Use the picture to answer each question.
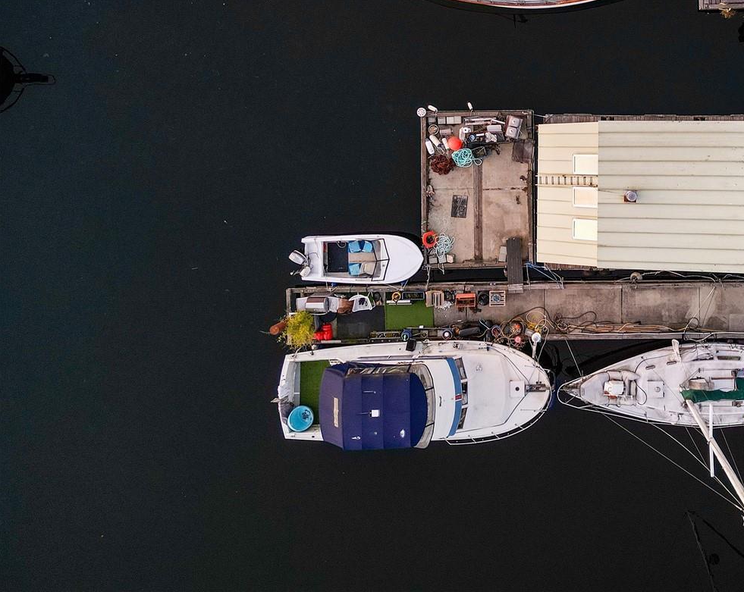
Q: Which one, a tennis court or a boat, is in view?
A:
boat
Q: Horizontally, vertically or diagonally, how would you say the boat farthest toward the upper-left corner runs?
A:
horizontally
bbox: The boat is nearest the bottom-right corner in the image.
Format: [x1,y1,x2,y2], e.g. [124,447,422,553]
[556,343,744,526]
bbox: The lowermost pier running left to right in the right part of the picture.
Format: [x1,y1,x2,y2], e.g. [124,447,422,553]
[287,282,744,342]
